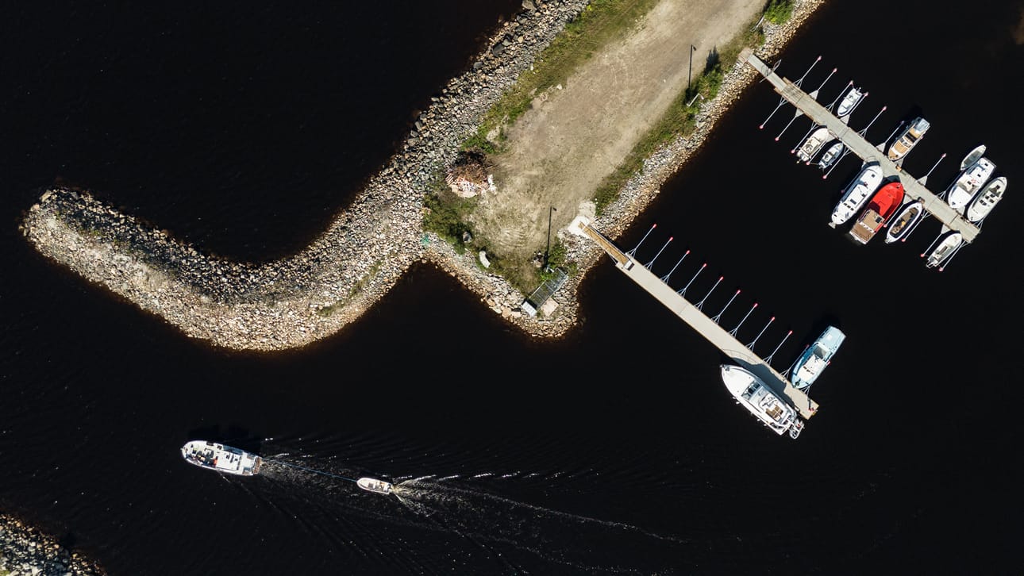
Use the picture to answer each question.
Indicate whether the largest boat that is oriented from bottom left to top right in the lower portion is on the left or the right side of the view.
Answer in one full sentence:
You can find the largest boat that is oriented from bottom left to top right in the lower portion on the right side of the picture.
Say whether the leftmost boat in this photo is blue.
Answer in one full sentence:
No, the leftmost boat is white.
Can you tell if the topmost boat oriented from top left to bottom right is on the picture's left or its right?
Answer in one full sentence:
The topmost boat oriented from top left to bottom right sits on the right side.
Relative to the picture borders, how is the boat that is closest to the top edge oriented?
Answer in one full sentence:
The boat that is closest to the top edge is oriented diagonally.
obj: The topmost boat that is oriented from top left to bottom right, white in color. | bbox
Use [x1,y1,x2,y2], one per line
[719,358,800,438]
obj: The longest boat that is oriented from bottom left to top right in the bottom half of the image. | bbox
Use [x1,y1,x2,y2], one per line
[791,326,846,394]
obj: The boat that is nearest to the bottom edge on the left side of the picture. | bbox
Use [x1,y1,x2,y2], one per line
[357,478,394,495]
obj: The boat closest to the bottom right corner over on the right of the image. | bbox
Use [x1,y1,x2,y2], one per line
[791,418,805,438]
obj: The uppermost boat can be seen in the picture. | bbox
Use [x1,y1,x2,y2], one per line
[837,86,864,116]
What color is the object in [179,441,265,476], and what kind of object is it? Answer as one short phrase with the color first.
white boat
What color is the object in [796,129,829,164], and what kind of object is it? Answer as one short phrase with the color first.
white boat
